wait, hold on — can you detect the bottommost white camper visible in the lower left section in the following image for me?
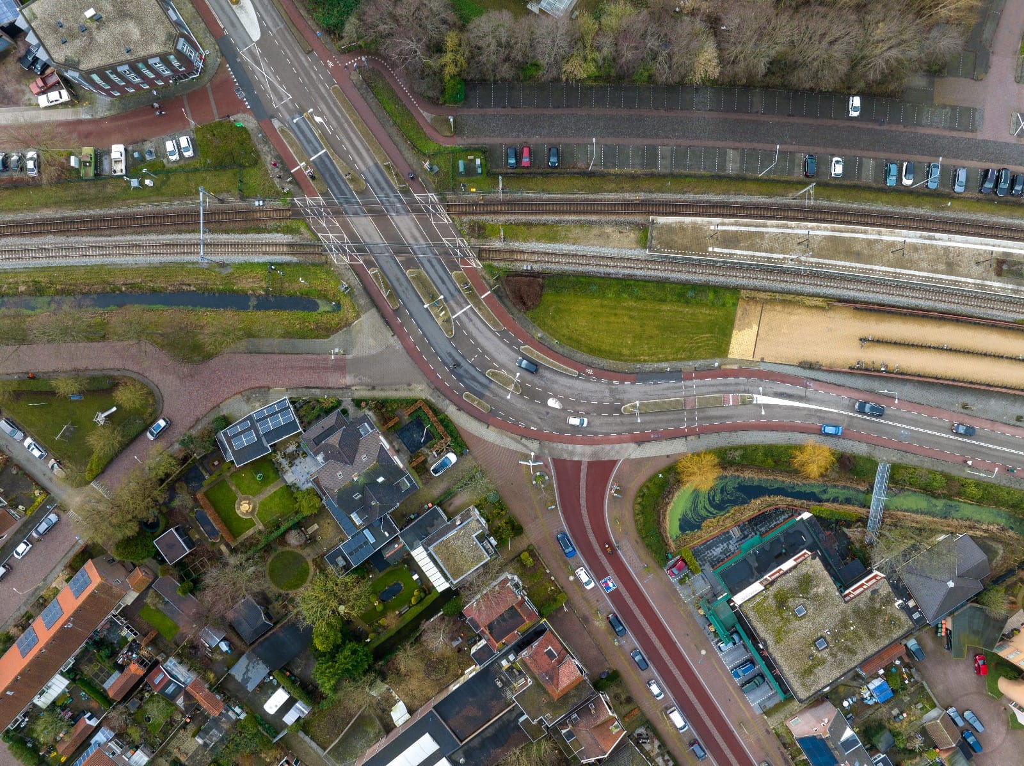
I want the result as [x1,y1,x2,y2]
[260,689,289,717]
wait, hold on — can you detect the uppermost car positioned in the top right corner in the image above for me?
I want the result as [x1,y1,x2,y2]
[848,92,863,119]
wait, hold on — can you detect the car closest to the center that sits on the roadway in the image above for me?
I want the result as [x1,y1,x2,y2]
[513,356,541,375]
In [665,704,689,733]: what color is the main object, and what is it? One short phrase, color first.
white vehicle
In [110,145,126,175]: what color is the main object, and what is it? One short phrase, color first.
white vehicle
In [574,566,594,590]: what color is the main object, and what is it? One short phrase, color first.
white car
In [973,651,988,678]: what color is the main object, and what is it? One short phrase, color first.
red car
